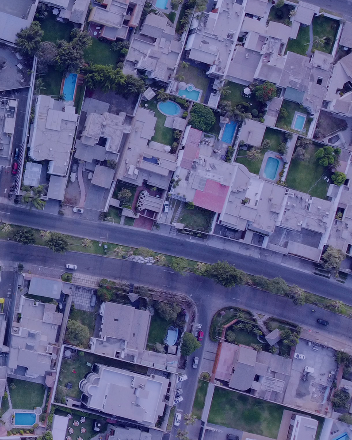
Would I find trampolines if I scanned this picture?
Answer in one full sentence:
No, no trampoline is visible in the scene.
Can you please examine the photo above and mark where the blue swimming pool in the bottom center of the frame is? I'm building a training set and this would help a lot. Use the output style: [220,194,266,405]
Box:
[163,325,179,347]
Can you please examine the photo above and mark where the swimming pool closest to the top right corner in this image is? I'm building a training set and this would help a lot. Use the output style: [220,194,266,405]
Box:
[293,112,308,132]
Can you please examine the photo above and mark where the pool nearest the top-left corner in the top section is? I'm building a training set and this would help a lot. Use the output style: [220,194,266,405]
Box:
[64,71,79,102]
